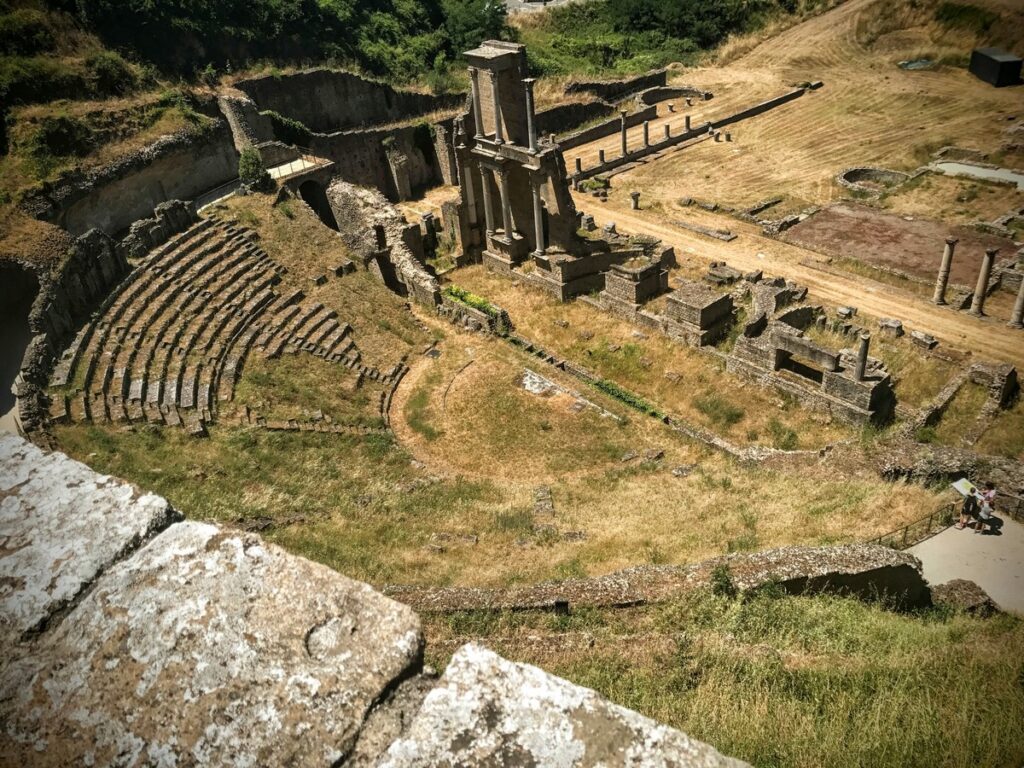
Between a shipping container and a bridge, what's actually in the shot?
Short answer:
bridge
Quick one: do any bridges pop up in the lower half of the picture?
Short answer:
No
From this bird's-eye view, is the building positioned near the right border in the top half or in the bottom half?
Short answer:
top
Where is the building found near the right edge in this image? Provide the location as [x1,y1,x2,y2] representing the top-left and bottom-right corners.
[970,42,1024,87]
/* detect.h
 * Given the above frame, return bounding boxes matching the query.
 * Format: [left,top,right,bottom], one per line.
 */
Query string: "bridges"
[278,136,337,223]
